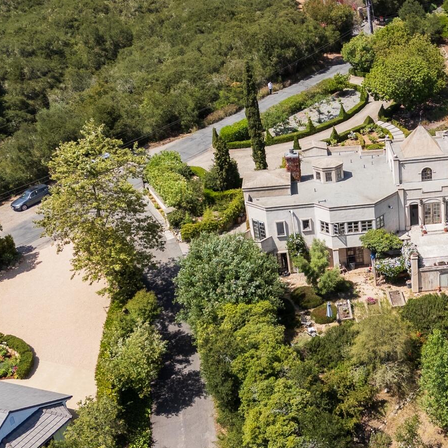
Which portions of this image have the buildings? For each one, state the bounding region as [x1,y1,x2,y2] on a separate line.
[244,116,448,293]
[0,380,80,448]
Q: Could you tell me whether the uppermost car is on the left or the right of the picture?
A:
left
